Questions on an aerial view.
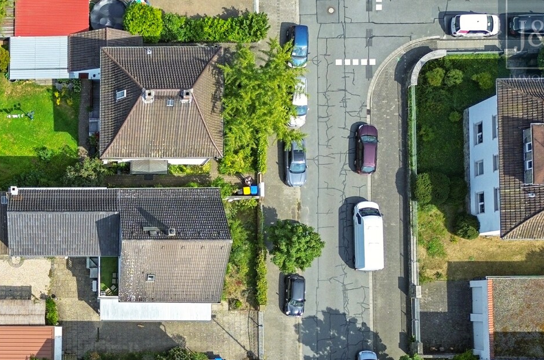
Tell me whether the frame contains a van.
Yes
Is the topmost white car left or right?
right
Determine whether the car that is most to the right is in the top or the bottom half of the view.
top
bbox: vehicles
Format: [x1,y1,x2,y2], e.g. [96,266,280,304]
[353,124,380,175]
[448,12,496,39]
[286,79,313,126]
[350,203,383,269]
[505,15,544,39]
[282,272,308,317]
[286,23,310,71]
[283,137,309,189]
[354,348,379,360]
